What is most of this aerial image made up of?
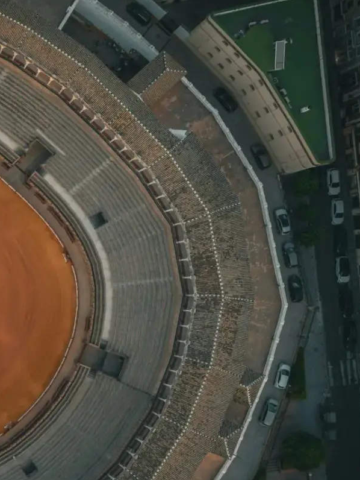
buildings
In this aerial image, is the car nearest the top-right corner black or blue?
black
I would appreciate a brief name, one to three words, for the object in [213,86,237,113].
car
